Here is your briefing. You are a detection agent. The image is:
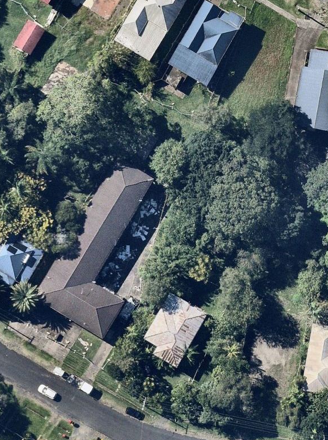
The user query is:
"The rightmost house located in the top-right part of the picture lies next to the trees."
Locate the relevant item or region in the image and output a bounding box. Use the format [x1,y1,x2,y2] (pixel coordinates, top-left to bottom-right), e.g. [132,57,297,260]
[292,49,328,131]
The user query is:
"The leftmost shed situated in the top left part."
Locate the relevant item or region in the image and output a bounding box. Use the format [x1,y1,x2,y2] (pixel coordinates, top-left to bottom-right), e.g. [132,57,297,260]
[13,19,46,55]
